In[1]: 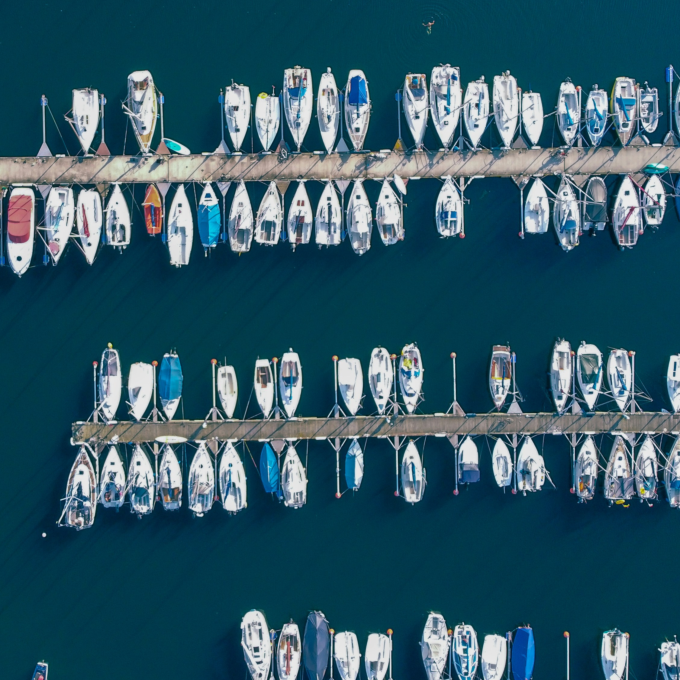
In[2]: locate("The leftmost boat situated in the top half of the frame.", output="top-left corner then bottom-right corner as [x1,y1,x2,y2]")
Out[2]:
[3,185,43,275]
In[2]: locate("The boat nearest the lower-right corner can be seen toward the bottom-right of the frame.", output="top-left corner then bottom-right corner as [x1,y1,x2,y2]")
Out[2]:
[659,637,680,680]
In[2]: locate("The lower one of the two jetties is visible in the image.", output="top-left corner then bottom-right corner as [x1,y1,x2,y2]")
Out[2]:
[72,411,680,446]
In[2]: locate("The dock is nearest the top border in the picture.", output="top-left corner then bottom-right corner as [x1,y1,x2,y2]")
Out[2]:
[0,144,680,185]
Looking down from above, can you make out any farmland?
No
